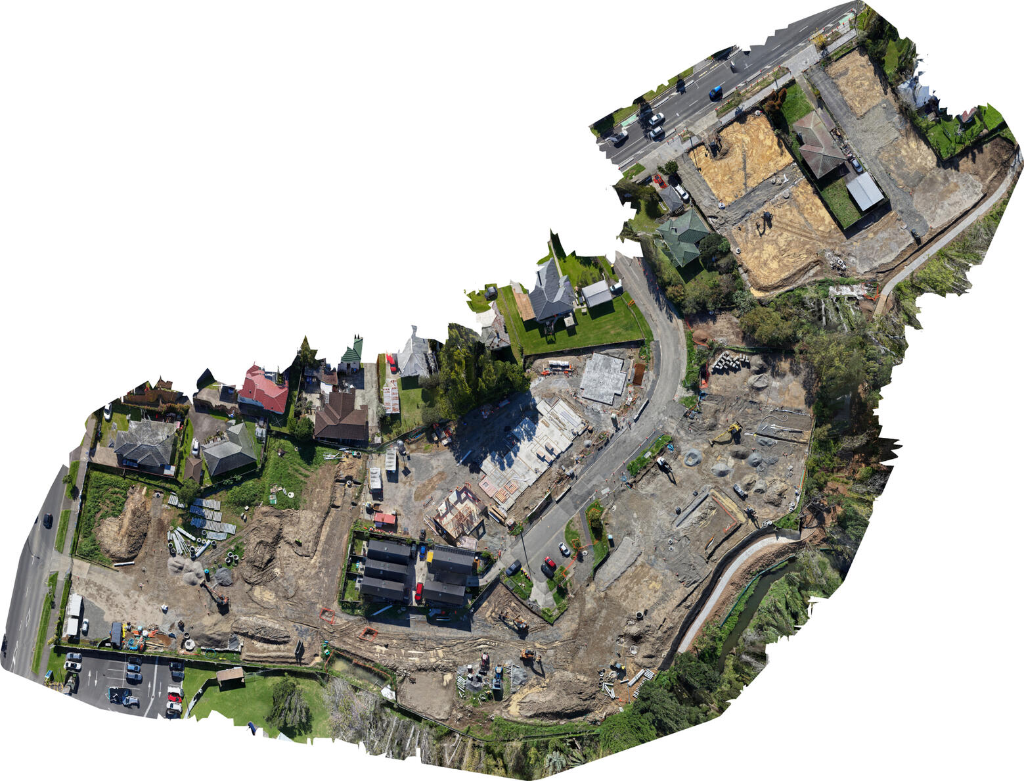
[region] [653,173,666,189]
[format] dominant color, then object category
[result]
red vehicle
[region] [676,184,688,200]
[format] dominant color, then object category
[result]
white vehicle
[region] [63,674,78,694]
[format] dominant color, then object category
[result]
gray vehicle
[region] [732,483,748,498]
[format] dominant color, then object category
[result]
gray vehicle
